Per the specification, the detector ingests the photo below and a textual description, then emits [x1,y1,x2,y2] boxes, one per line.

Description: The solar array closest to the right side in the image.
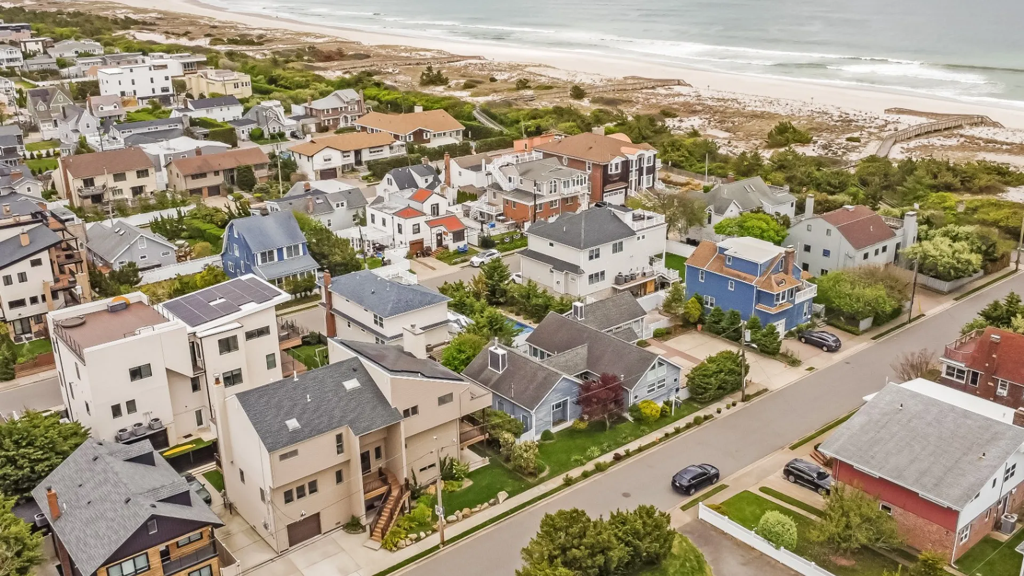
[336,340,468,382]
